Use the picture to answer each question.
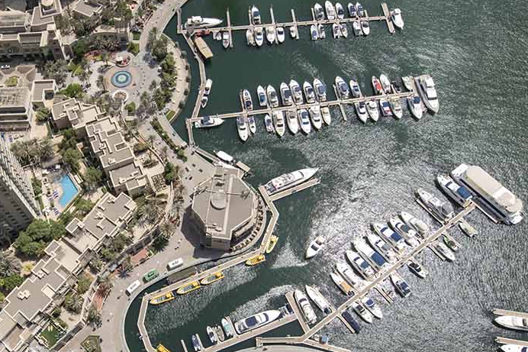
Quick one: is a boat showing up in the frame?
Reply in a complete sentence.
Yes, I can see a boat in this picture.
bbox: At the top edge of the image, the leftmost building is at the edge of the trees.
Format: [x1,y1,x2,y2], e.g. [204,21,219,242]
[0,0,69,58]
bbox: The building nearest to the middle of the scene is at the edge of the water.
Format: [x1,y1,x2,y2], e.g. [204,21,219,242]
[192,170,265,254]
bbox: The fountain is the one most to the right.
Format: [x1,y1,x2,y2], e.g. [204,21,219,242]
[111,70,132,88]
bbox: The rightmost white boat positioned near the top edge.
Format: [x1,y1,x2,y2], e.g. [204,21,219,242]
[391,8,404,29]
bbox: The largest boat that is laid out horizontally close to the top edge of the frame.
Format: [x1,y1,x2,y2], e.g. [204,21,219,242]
[185,15,223,30]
